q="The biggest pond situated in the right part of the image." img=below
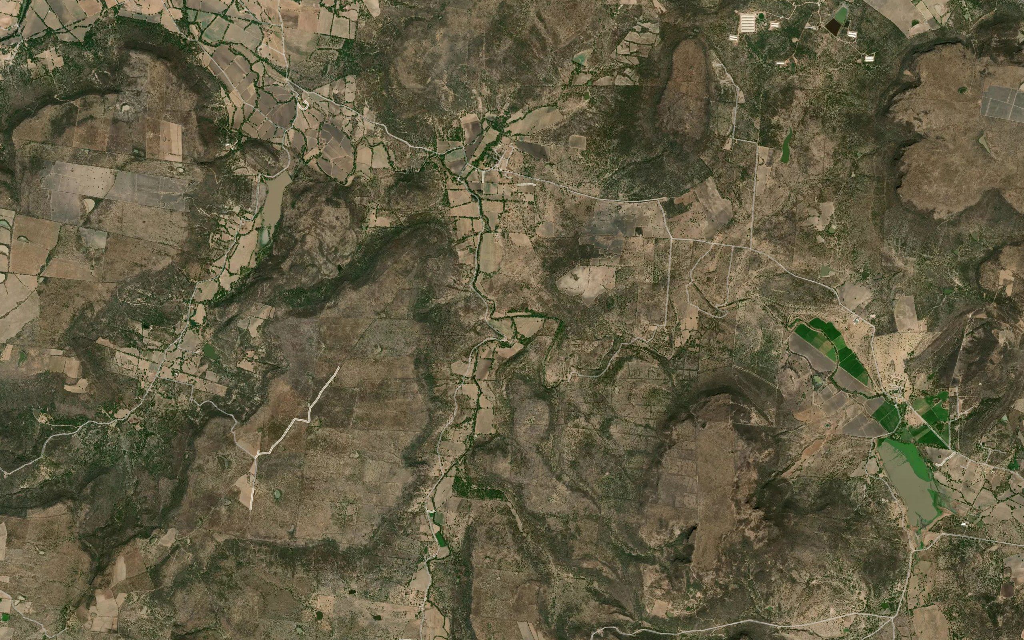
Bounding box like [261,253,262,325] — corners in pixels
[877,441,936,528]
